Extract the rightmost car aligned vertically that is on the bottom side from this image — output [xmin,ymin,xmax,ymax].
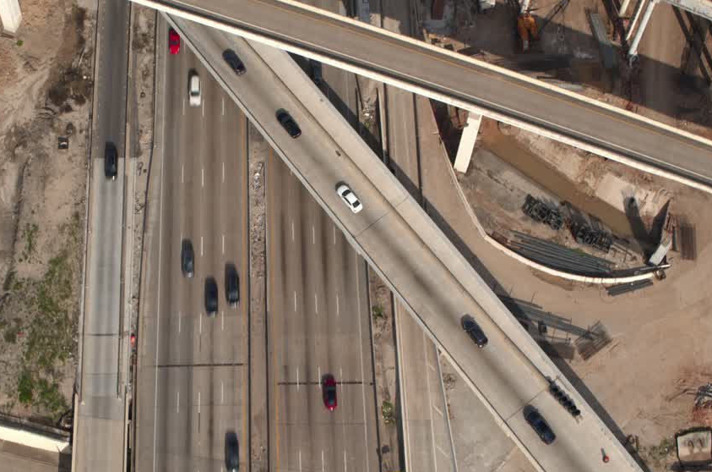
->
[323,376,339,409]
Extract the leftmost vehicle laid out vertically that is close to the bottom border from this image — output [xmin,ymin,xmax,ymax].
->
[224,435,241,471]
